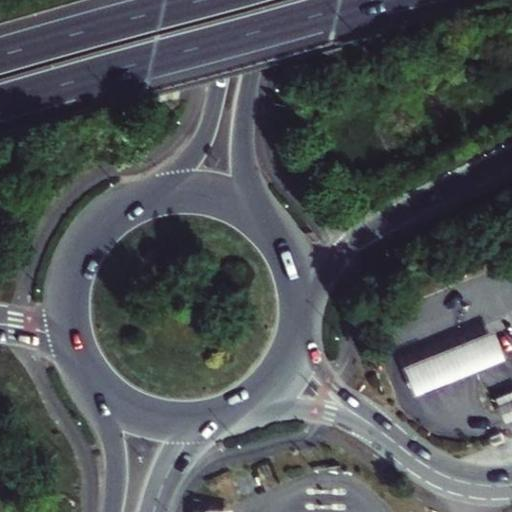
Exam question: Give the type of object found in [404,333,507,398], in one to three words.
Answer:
building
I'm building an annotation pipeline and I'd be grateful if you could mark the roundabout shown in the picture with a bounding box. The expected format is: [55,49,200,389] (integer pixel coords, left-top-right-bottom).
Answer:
[42,163,334,445]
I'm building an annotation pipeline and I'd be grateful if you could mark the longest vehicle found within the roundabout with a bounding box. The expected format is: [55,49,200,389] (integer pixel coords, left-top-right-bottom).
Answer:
[279,246,298,280]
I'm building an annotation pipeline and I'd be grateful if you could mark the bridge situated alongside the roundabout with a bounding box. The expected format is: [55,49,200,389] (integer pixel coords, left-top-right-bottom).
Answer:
[144,0,354,102]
